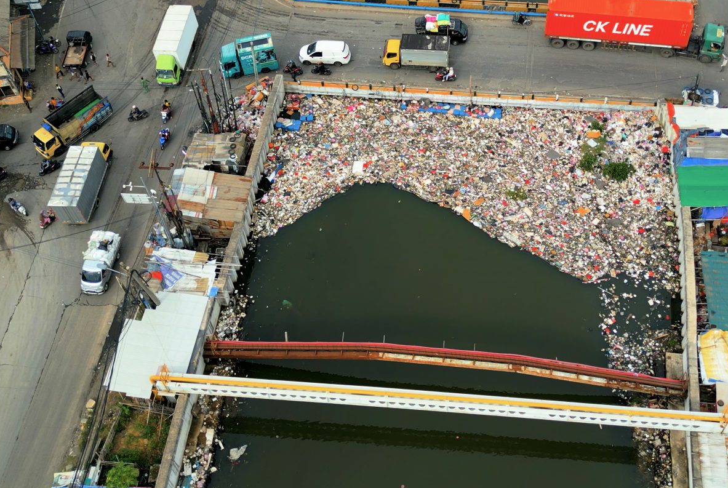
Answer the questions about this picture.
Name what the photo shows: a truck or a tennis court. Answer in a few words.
truck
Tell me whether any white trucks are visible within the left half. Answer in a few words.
Yes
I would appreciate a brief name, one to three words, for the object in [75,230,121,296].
truck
